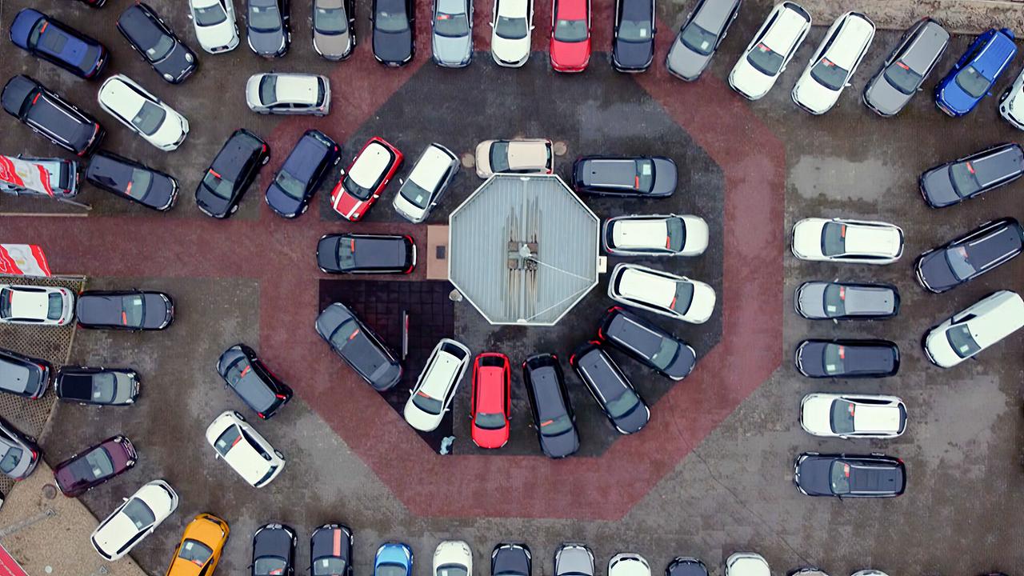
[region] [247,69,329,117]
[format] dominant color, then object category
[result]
white car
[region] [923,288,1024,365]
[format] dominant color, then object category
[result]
white van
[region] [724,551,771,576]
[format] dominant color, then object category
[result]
white car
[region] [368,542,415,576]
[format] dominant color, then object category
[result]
blue car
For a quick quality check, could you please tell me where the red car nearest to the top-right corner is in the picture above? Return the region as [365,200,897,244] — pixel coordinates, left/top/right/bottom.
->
[547,0,595,73]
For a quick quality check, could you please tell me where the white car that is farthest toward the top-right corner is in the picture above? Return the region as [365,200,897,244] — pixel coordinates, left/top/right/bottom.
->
[995,64,1024,125]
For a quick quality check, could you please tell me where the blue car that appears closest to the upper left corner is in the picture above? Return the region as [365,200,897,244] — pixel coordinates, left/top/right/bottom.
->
[12,12,112,80]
